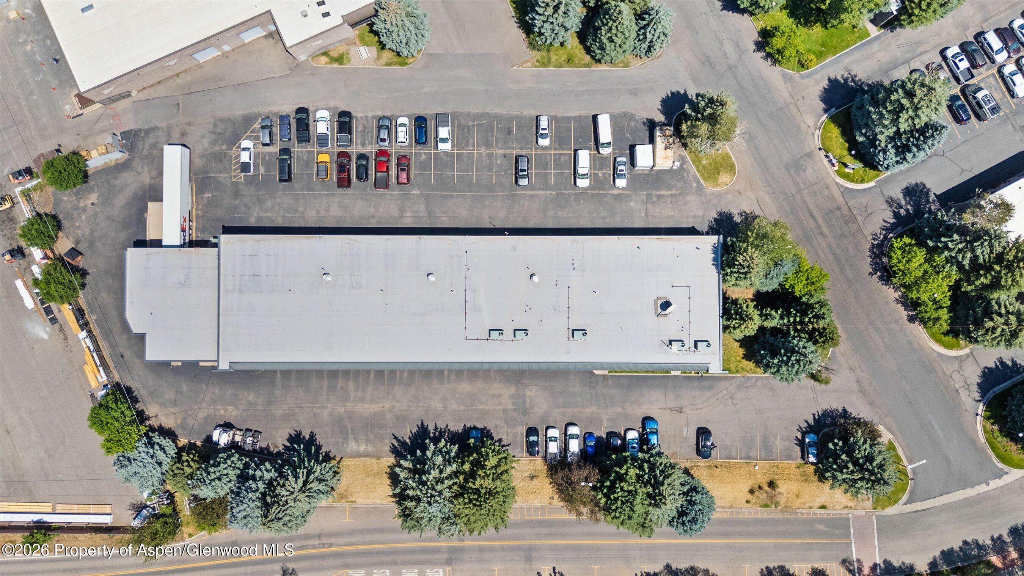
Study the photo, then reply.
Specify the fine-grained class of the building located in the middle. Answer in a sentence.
It turns out the building located in the middle is a warehouse.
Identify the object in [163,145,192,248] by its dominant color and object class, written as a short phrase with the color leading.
white trailer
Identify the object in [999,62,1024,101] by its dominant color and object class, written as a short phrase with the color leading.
white truck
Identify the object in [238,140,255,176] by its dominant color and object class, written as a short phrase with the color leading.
white vehicle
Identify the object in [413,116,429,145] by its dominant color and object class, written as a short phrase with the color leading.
blue car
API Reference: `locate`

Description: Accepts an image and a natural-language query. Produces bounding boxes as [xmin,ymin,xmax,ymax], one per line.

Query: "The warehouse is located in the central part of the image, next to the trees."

[124,234,727,374]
